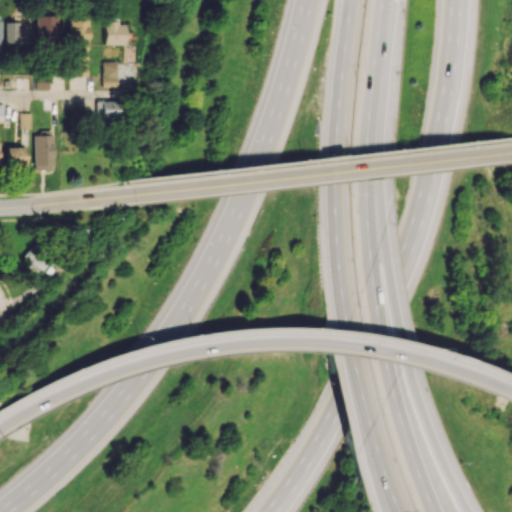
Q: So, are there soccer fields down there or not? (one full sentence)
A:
No, no soccer field is visible in the view.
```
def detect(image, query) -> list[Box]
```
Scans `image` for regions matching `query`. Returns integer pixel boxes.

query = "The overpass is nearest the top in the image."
[145,138,512,204]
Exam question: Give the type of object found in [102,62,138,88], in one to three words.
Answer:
house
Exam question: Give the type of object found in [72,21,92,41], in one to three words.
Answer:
house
